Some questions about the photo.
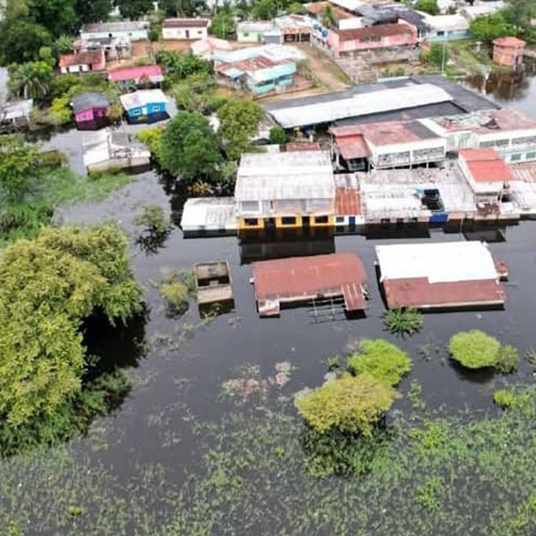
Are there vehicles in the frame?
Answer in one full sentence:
No, no vehicle is visible in the scene.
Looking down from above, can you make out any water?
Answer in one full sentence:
Yes, some water is visible.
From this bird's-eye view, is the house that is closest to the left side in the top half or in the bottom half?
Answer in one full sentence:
It is in the top half that the house that is closest to the left side appears.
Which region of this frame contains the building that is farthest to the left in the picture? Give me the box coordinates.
[3,100,33,128]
